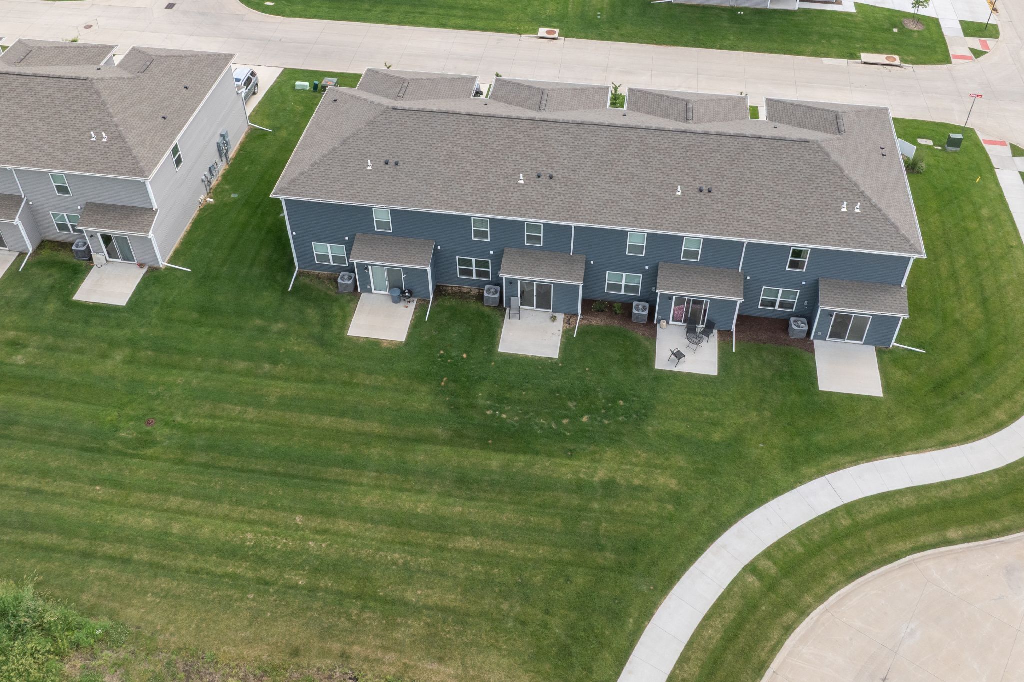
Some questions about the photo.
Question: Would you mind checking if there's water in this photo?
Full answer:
No, the picture contains no water.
